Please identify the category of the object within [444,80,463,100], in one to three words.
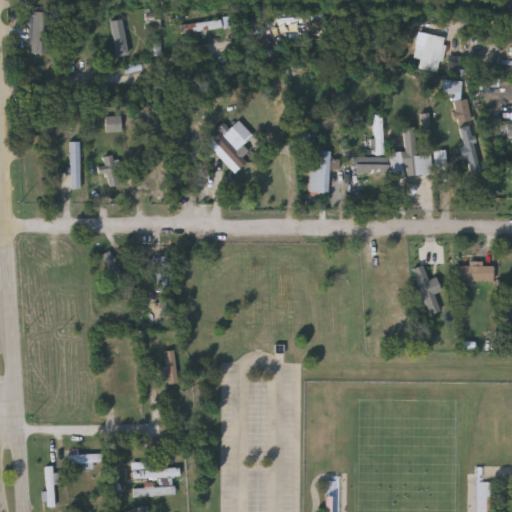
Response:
building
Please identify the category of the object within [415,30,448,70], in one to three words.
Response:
building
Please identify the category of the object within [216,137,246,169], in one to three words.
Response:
house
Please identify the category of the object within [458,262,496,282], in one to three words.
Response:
house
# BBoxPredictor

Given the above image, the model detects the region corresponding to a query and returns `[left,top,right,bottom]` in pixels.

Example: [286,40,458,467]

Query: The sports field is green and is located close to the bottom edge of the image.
[355,400,460,512]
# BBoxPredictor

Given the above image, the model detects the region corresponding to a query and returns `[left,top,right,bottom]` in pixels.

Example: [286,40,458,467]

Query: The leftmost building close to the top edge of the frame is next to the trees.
[29,12,46,54]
